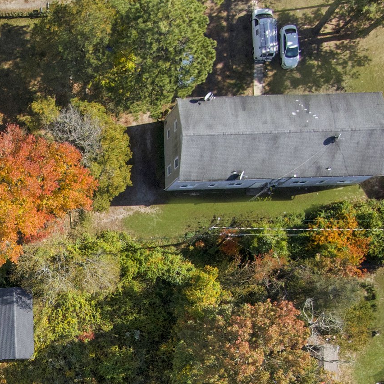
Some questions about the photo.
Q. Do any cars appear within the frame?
Yes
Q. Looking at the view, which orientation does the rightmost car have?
from top to bottom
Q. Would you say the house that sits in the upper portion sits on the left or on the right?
right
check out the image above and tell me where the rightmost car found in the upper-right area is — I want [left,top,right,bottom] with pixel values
[278,23,303,72]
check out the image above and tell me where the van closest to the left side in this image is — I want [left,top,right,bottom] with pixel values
[249,9,277,64]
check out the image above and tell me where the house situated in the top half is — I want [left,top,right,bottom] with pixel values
[166,88,384,194]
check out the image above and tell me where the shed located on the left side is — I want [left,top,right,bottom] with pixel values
[0,287,34,360]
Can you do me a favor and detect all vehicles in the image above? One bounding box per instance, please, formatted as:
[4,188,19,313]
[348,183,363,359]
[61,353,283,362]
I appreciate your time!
[278,23,303,72]
[249,9,277,64]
